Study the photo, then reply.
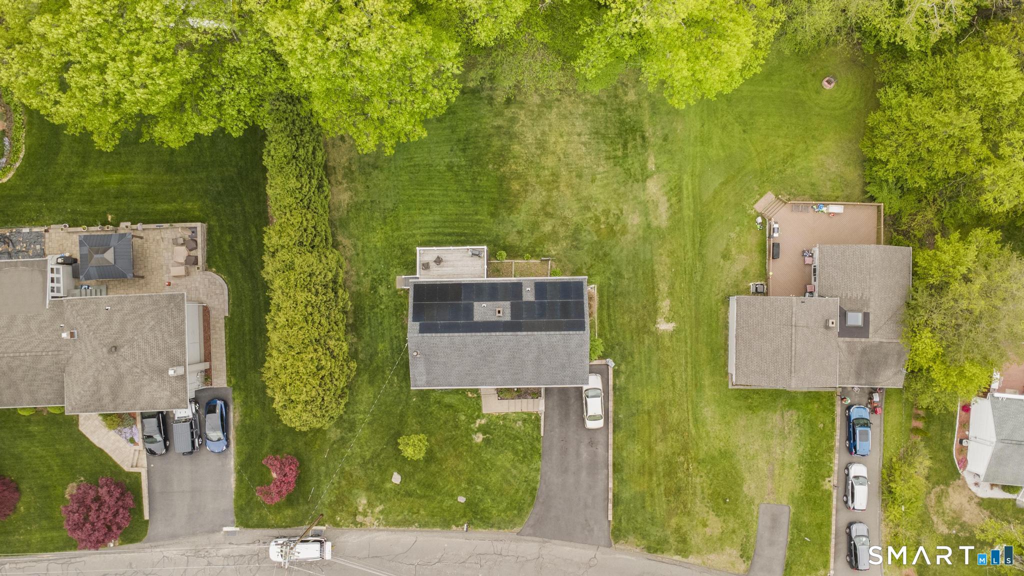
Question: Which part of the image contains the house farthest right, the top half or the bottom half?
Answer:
bottom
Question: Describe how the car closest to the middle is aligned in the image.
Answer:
from top to bottom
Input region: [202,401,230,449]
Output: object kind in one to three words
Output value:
car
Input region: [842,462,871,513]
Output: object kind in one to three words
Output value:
car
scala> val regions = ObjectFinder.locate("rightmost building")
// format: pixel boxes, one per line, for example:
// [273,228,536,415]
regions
[969,388,1024,500]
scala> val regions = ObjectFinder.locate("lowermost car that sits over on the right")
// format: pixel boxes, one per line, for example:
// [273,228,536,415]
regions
[844,521,874,573]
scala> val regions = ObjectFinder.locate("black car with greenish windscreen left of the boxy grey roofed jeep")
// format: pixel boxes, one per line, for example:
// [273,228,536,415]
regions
[139,413,169,455]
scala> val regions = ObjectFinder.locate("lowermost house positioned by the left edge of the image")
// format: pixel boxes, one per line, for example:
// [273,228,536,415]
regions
[0,257,211,415]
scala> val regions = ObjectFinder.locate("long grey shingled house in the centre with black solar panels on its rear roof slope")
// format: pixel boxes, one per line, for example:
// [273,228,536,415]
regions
[405,276,591,391]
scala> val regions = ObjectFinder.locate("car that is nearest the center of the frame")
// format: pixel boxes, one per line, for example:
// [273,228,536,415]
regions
[582,373,606,429]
